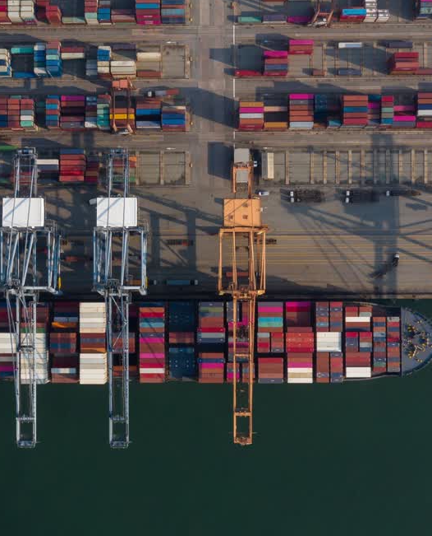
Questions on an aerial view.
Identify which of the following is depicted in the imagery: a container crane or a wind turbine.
container crane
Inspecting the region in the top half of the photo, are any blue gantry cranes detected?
No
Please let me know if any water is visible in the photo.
Yes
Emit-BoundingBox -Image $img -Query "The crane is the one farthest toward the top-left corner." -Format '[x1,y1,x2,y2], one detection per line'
[110,74,136,138]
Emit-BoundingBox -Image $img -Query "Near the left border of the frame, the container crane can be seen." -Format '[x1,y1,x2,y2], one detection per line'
[0,147,76,446]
